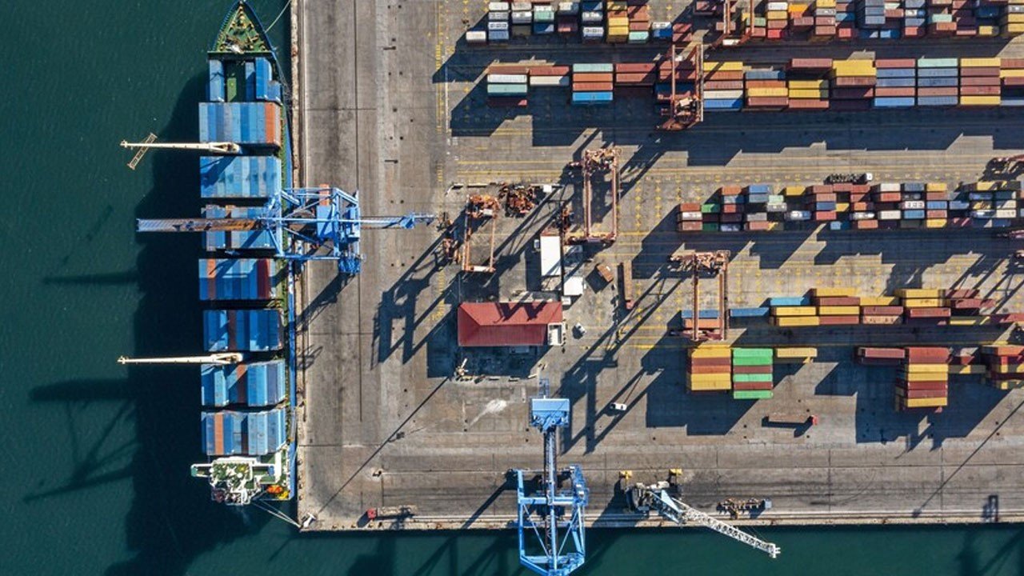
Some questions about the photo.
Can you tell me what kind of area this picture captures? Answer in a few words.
port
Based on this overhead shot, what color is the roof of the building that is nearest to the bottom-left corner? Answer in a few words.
red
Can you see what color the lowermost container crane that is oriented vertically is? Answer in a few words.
blue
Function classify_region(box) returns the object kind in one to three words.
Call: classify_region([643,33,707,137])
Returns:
container crane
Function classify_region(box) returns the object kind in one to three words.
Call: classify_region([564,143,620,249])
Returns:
container crane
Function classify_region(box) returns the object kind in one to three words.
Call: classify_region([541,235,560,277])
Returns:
shed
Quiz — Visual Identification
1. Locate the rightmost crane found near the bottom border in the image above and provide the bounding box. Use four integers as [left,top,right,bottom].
[619,469,782,558]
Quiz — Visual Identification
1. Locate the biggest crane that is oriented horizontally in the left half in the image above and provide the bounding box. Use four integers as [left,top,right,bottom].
[133,186,449,281]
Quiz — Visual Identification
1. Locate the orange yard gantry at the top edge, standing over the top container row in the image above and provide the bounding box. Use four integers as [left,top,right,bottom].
[691,0,758,61]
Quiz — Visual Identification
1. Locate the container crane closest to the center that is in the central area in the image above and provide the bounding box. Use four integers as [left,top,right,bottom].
[453,194,505,274]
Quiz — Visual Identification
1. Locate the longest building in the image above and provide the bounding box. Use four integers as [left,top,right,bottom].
[457,301,563,354]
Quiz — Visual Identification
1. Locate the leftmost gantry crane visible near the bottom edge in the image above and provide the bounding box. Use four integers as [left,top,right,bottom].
[504,372,593,576]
